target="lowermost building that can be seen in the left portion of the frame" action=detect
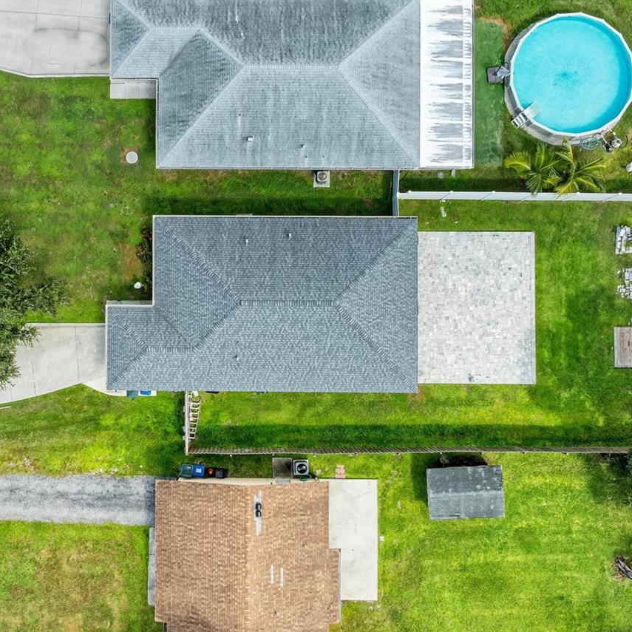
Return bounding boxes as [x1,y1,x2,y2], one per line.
[155,478,343,632]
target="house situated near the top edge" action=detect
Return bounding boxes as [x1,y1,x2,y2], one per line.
[107,0,474,177]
